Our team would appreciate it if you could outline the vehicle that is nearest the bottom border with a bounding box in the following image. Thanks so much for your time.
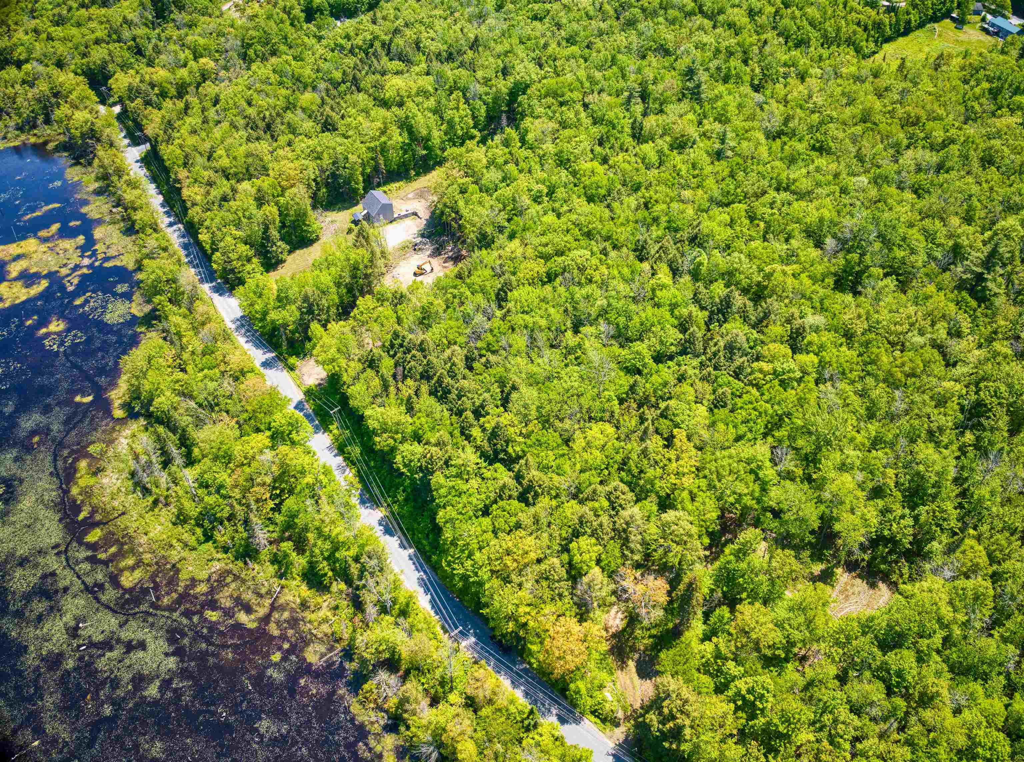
[413,262,433,274]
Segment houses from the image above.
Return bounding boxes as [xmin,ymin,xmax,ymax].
[985,15,1024,39]
[360,189,395,227]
